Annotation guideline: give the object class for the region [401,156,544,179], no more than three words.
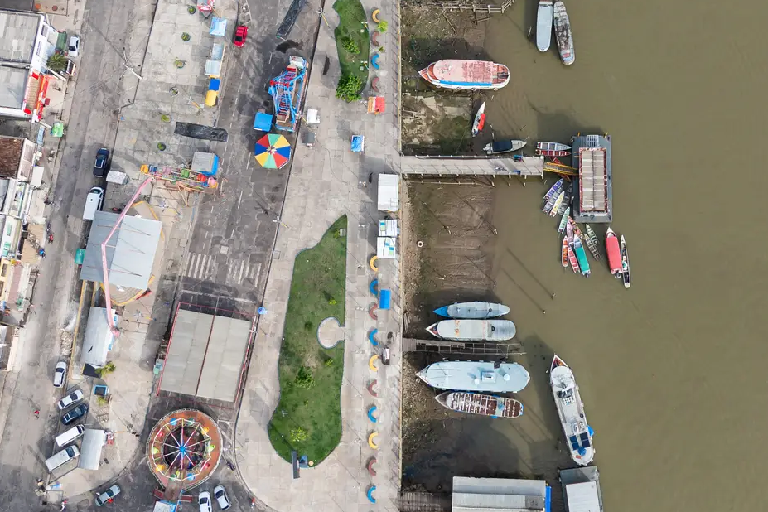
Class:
pier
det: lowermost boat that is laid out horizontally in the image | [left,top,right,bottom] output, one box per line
[434,391,523,421]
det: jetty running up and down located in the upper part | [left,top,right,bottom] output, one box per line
[573,136,613,223]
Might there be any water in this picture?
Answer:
Yes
